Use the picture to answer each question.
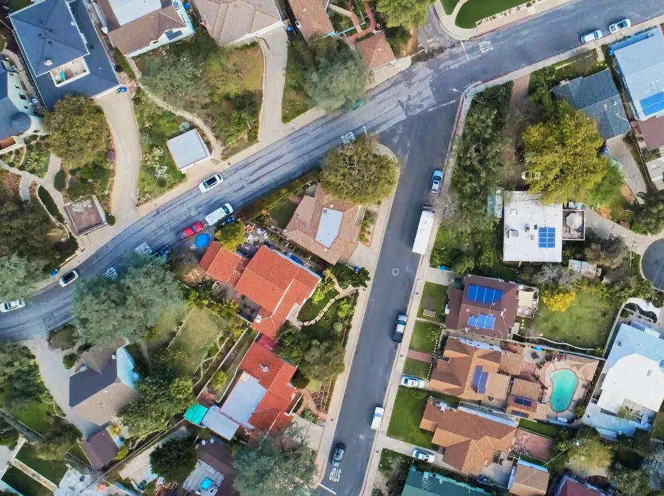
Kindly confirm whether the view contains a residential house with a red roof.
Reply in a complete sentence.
Yes, the photo shows a residential house with a red roof.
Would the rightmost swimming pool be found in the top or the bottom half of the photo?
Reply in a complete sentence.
The rightmost swimming pool is in the bottom half of the image.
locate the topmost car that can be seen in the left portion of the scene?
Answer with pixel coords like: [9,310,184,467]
[198,173,225,194]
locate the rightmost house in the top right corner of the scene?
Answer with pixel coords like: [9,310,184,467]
[607,27,664,151]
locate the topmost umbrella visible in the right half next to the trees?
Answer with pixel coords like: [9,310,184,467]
[565,212,582,229]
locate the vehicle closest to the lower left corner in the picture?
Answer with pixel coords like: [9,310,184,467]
[1,297,27,313]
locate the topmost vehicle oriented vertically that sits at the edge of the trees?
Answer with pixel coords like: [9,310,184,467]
[430,169,444,195]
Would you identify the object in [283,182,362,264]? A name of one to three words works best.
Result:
house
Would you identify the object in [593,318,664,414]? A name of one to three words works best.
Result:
house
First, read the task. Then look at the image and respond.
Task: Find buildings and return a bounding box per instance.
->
[445,274,518,339]
[506,378,550,420]
[553,69,630,139]
[195,0,284,46]
[354,32,396,70]
[283,182,362,264]
[168,129,214,170]
[64,196,112,235]
[199,241,323,337]
[0,55,51,157]
[202,341,299,445]
[289,0,340,43]
[502,191,562,262]
[431,335,522,401]
[402,465,492,496]
[69,336,140,425]
[10,0,126,116]
[569,259,596,277]
[549,470,610,496]
[510,462,550,496]
[420,395,518,475]
[98,0,197,57]
[607,27,664,151]
[593,318,664,414]
[80,426,121,470]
